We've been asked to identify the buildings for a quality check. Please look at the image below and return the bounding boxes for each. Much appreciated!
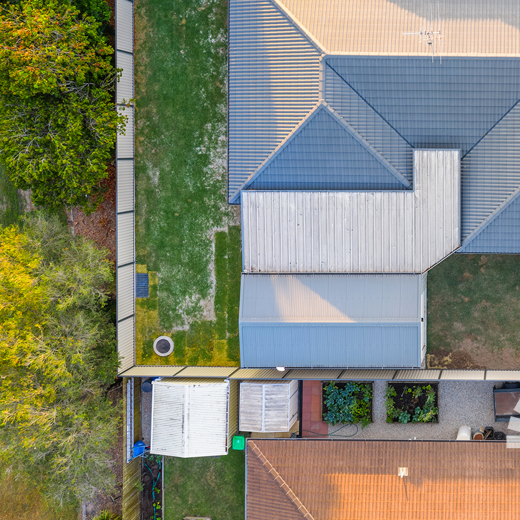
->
[226,0,520,257]
[239,379,299,433]
[151,378,238,457]
[235,273,429,373]
[242,438,520,520]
